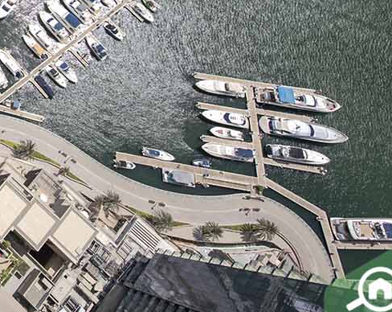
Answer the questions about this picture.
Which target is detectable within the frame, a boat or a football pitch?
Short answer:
boat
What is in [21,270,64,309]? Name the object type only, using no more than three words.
house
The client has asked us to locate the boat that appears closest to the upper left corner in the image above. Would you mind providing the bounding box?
[0,0,19,19]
